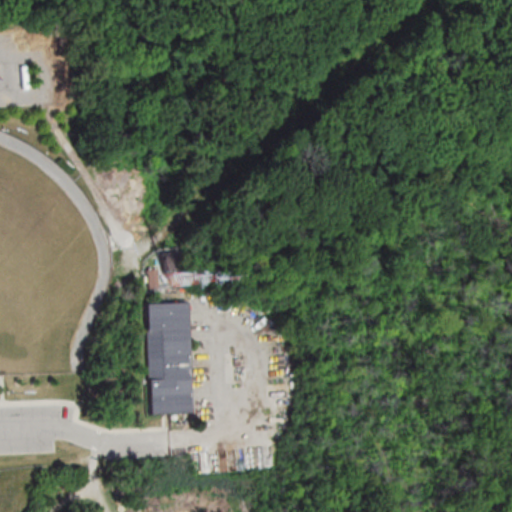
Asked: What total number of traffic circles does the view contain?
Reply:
none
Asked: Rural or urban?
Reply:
rural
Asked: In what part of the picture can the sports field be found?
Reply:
left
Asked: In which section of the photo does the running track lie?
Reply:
left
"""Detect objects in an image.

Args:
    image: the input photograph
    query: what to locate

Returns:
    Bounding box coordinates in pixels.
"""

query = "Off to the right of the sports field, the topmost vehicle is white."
[250,316,270,334]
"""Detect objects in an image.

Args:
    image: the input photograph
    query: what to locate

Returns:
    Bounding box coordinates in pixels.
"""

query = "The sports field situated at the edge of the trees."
[0,146,96,372]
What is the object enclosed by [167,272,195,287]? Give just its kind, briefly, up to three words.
shed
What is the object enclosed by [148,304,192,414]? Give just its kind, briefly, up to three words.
building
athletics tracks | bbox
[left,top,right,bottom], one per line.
[0,132,108,372]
